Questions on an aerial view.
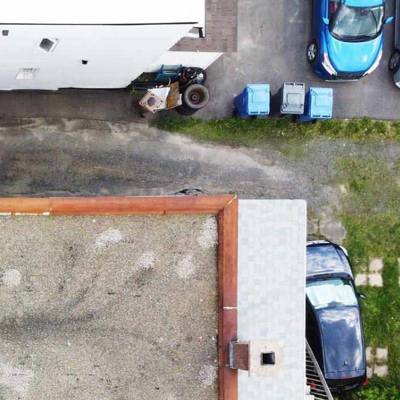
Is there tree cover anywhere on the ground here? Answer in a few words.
No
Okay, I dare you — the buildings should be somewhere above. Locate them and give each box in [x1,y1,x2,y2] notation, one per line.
[0,0,237,89]
[0,196,307,400]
